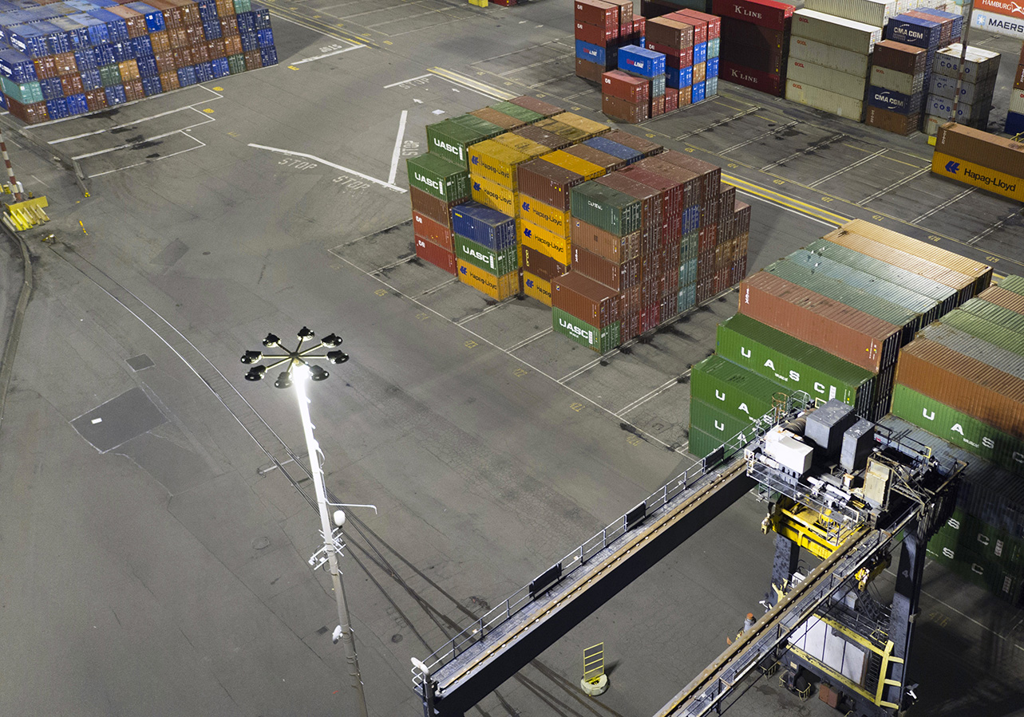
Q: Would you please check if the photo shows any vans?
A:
No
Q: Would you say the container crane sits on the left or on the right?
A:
right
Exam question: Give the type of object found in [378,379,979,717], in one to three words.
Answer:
container crane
